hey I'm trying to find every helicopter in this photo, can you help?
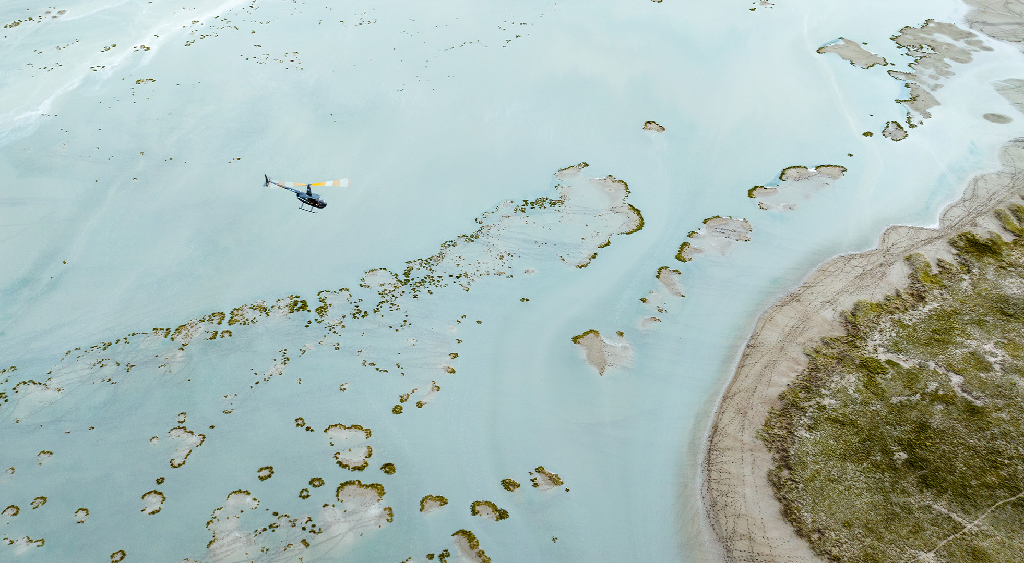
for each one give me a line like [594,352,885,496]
[264,172,351,215]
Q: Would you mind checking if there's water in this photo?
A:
Yes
